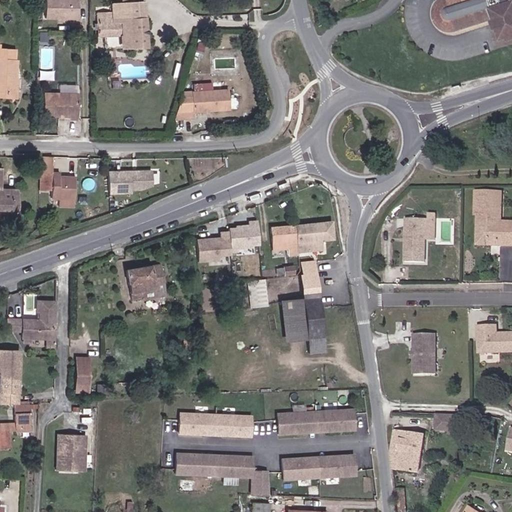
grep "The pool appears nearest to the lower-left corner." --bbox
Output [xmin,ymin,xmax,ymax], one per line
[24,294,36,314]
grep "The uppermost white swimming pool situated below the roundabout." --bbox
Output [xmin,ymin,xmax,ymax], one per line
[437,218,454,244]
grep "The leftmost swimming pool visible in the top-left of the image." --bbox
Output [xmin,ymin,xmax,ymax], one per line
[39,46,54,70]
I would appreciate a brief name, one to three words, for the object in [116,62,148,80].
swimming pool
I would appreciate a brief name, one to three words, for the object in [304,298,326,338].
barn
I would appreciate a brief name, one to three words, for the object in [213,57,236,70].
swimming pool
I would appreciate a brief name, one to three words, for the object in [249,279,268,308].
shed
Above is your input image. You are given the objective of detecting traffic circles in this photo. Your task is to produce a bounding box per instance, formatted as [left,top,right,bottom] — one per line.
[302,78,460,206]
